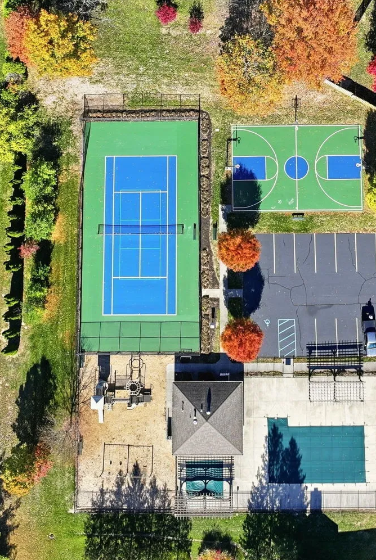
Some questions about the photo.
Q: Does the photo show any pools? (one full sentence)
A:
Yes, looking at the shot, I can spot a pool.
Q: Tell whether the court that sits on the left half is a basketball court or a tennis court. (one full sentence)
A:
What you see as the court that sits on the left half is a tennis court.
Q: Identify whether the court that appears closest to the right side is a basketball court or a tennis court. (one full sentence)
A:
The court that appears closest to the right side can be classified as a basketball court.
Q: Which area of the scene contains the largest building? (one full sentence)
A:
The largest building is located in the bottom region of the scene.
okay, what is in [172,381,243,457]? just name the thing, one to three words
building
